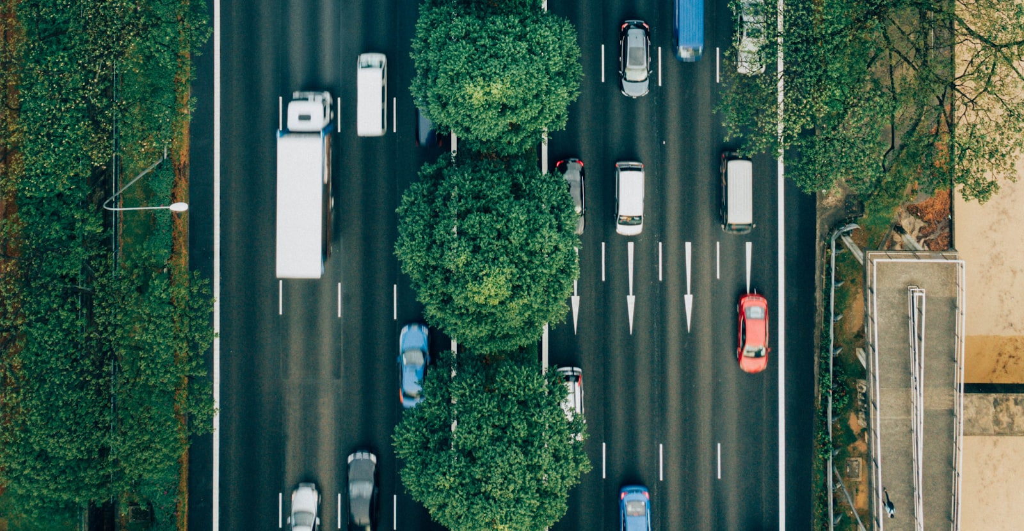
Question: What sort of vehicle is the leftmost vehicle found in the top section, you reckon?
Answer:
truck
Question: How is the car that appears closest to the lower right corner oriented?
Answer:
from top to bottom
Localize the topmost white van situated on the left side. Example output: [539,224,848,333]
[353,53,390,139]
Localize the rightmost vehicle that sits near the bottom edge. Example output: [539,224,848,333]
[620,484,650,531]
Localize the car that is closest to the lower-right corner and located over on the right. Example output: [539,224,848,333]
[735,293,771,373]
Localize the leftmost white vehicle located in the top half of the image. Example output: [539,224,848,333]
[277,90,339,278]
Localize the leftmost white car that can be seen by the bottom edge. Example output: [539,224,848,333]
[287,482,323,531]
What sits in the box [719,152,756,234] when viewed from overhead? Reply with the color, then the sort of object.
white van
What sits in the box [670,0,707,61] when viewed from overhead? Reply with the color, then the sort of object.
blue van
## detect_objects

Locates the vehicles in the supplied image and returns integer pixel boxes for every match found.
[620,484,650,531]
[344,451,381,531]
[395,322,432,407]
[735,293,771,373]
[353,53,390,139]
[287,482,323,531]
[277,90,339,278]
[553,366,587,445]
[616,20,654,97]
[409,77,444,148]
[719,152,756,234]
[670,0,707,61]
[554,158,588,232]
